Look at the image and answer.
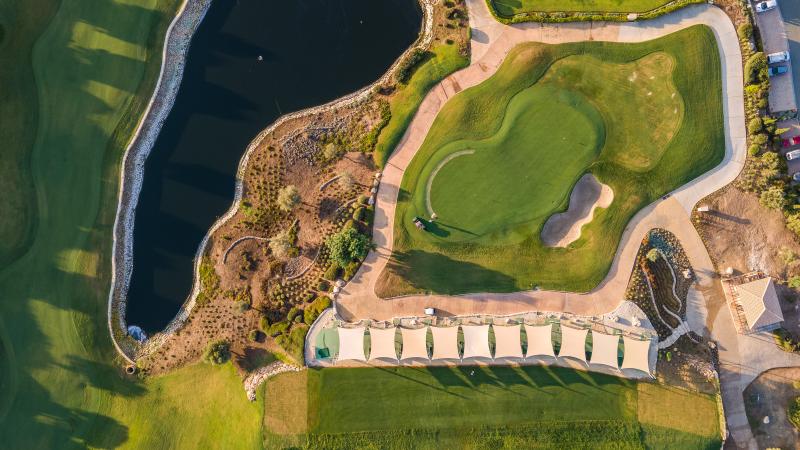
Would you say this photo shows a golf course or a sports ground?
golf course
